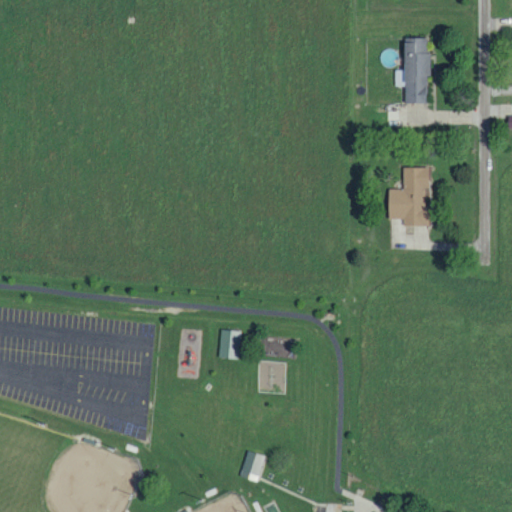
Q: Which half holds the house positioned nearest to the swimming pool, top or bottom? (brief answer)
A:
top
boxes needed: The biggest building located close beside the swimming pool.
[405,37,432,103]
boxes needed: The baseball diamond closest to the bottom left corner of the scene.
[0,413,141,512]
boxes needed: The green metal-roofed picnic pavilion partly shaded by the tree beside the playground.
[219,330,242,360]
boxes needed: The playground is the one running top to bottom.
[177,329,203,379]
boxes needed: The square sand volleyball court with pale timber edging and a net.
[258,361,288,394]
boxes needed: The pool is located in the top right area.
[380,49,399,68]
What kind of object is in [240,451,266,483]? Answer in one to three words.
building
